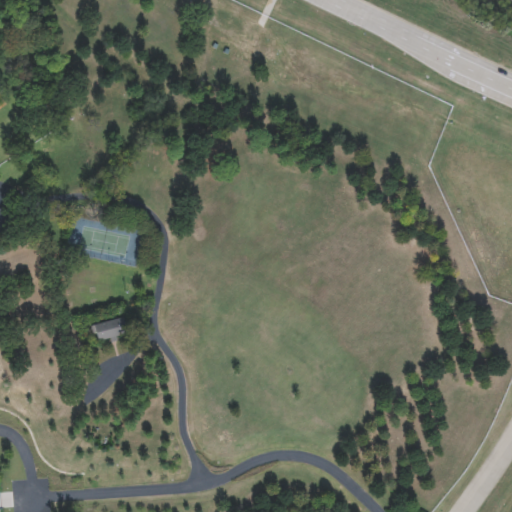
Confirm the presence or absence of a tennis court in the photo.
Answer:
Yes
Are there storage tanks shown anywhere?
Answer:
No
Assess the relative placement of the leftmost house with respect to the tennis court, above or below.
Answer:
below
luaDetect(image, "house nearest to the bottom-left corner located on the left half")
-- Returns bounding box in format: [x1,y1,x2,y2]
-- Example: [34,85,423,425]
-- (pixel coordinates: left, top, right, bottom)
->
[92,320,124,341]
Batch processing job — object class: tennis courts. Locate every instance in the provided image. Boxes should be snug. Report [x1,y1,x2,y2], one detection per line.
[72,218,138,265]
